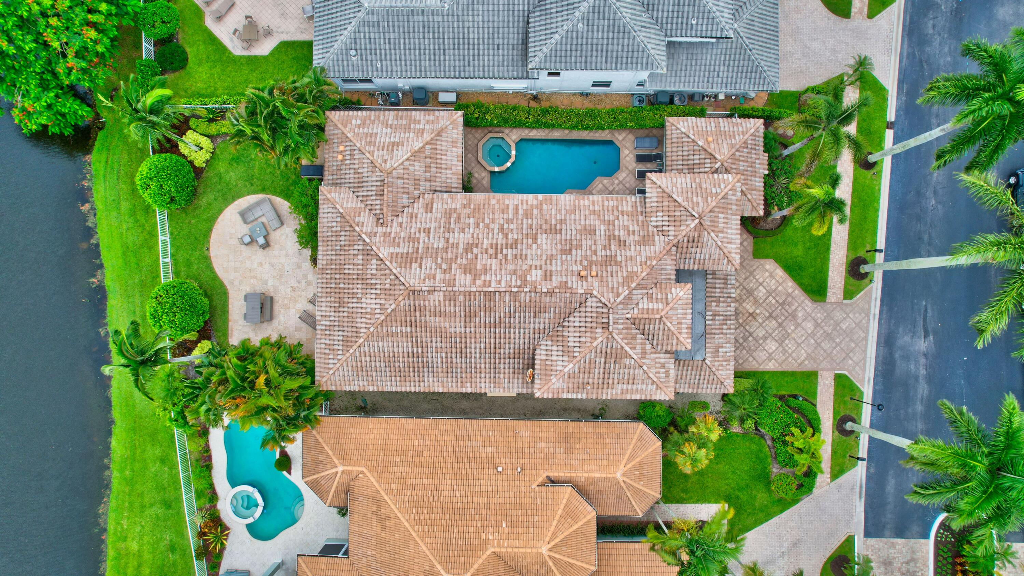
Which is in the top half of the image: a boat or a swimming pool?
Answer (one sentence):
Looking in the top half of the image, you will find a swimming pool.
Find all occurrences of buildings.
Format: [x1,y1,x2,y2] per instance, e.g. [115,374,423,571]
[311,0,782,99]
[314,108,770,401]
[295,414,685,576]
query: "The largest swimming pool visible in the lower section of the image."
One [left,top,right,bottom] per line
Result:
[221,420,307,543]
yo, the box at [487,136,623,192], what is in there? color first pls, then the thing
blue swimming pool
